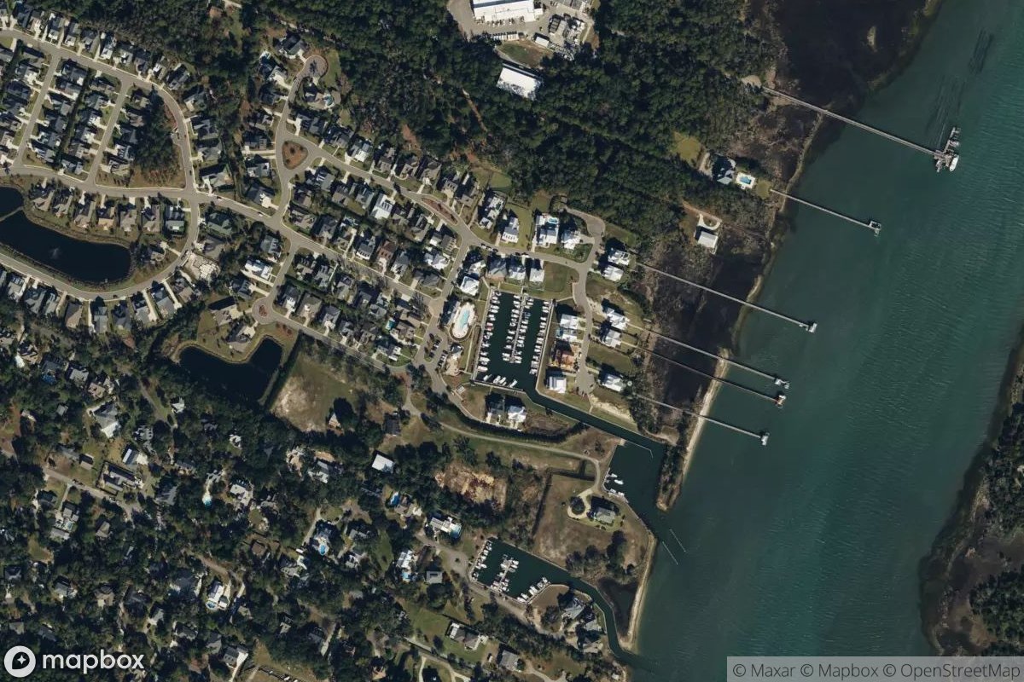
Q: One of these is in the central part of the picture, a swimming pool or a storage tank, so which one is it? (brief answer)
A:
swimming pool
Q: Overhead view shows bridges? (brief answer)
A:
No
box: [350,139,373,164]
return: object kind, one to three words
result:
house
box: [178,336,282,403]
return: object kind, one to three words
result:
pond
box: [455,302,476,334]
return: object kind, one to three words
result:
swimming pool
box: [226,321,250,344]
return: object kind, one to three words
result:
house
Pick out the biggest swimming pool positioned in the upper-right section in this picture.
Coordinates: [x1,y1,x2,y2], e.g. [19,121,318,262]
[736,171,757,189]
